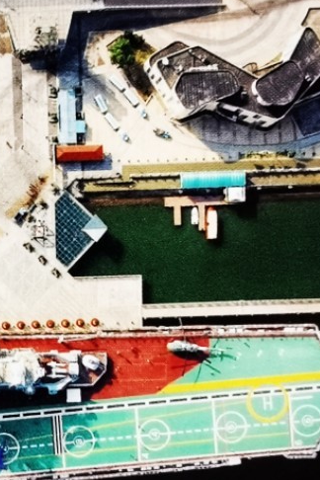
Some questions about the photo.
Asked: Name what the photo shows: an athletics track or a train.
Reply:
train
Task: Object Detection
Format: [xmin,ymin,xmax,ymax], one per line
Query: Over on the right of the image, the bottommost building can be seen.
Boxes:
[219,187,246,203]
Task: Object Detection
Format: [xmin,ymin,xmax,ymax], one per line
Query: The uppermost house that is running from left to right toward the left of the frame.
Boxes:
[55,145,103,163]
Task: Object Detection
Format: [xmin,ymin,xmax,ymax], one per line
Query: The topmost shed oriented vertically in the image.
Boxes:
[57,88,85,145]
